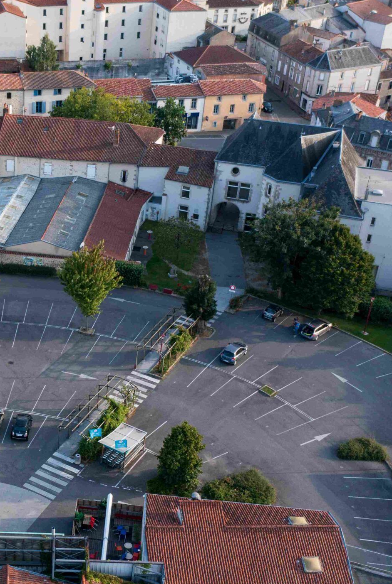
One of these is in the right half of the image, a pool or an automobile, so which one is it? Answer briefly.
automobile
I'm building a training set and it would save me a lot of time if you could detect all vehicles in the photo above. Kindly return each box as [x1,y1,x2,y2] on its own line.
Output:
[302,319,338,342]
[12,409,36,437]
[262,99,272,110]
[261,302,289,322]
[0,405,6,434]
[223,339,250,363]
